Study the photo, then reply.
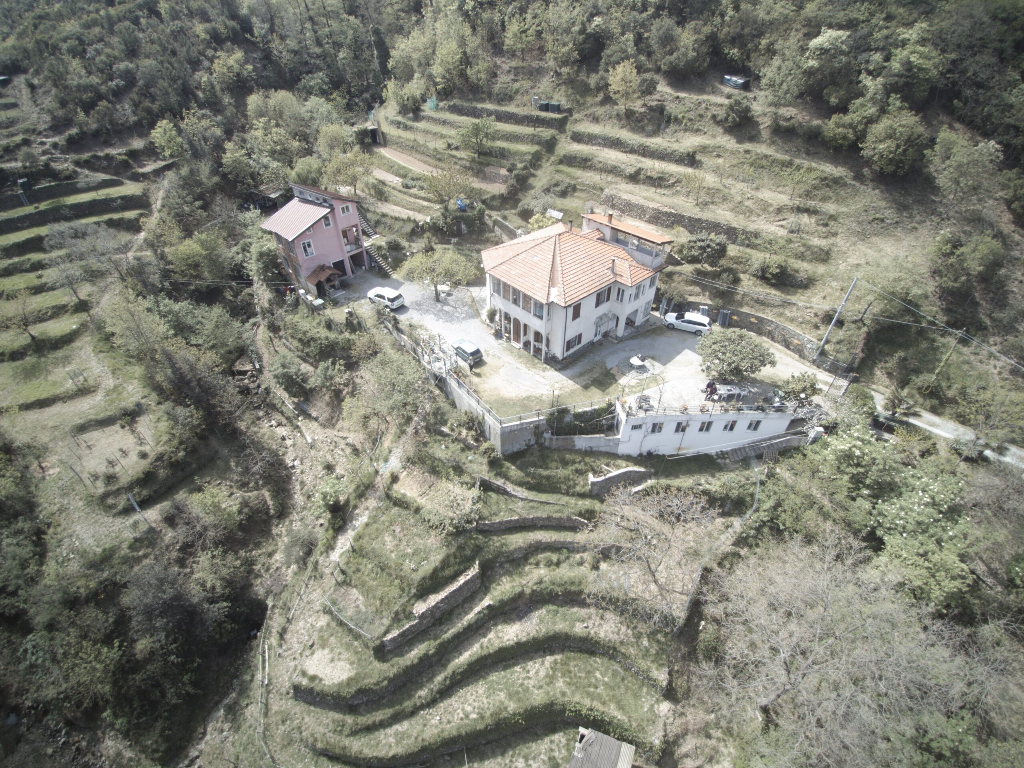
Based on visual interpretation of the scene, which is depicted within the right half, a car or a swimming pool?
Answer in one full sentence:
It is a car that can be seen within the right half.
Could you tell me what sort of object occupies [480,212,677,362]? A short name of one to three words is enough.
house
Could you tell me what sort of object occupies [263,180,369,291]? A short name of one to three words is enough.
house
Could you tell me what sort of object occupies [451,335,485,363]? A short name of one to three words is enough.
car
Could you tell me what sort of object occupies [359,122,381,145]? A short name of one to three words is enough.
shed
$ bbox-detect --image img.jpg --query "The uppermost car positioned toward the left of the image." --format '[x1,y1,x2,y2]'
[365,285,406,310]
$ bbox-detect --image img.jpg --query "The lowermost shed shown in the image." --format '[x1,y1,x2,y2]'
[567,728,636,768]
